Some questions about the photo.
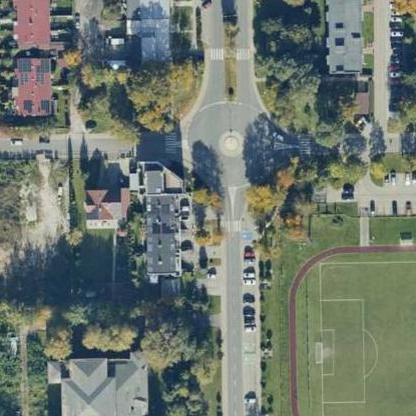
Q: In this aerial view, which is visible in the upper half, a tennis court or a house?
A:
house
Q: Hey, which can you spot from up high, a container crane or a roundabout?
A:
roundabout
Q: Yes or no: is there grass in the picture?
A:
Yes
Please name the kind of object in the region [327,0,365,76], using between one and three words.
building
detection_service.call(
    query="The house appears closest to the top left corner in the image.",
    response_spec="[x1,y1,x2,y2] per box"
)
[14,0,53,49]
